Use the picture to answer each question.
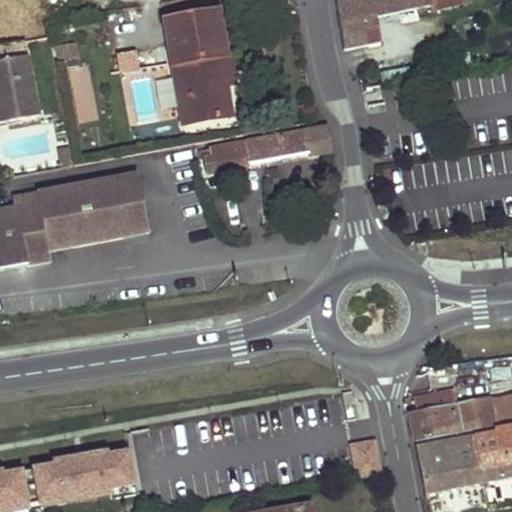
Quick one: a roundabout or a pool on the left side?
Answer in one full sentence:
You can see a pool on the left side.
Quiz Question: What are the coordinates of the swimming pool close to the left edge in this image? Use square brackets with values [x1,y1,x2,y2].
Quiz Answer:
[0,128,52,160]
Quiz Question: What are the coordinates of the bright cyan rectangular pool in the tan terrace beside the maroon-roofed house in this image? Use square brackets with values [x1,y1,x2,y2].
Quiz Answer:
[130,77,160,122]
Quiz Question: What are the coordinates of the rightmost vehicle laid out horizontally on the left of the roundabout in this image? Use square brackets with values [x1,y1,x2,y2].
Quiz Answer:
[248,339,272,351]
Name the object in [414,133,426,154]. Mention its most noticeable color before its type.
white vehicle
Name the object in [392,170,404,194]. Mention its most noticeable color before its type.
white vehicle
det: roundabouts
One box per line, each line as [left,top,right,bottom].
[336,275,410,349]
